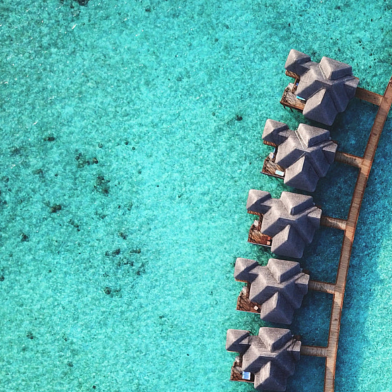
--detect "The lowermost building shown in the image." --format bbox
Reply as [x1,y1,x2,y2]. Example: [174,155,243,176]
[228,327,306,389]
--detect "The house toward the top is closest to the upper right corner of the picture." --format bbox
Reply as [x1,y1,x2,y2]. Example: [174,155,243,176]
[280,50,364,124]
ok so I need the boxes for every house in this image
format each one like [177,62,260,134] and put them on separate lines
[243,190,323,255]
[280,50,364,124]
[260,121,341,189]
[228,327,306,389]
[236,257,314,321]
